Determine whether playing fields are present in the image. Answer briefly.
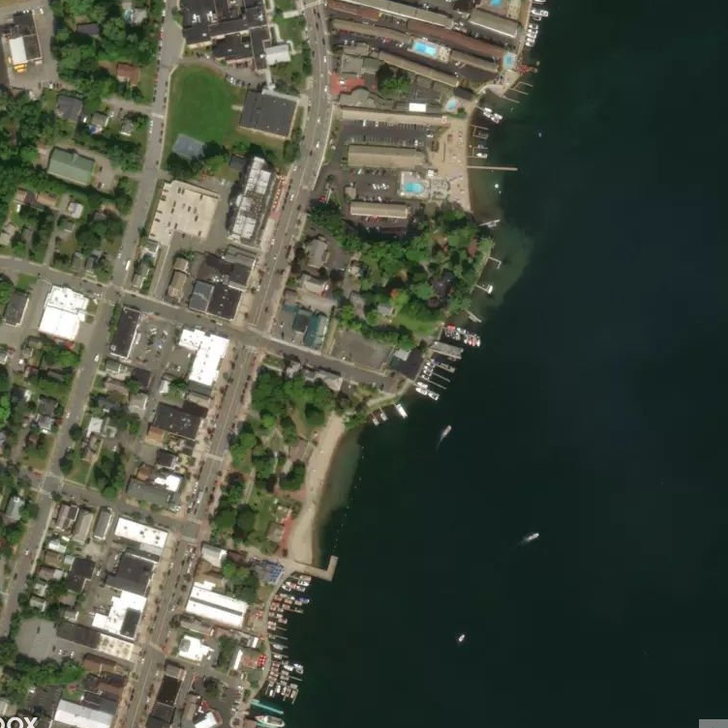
Yes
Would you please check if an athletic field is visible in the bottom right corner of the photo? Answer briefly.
No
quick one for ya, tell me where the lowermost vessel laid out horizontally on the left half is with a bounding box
[255,716,285,728]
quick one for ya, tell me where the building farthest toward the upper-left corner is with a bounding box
[9,10,42,65]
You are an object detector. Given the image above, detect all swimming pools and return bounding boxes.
[445,95,466,113]
[408,36,451,64]
[400,172,449,198]
[483,0,509,14]
[502,52,516,69]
